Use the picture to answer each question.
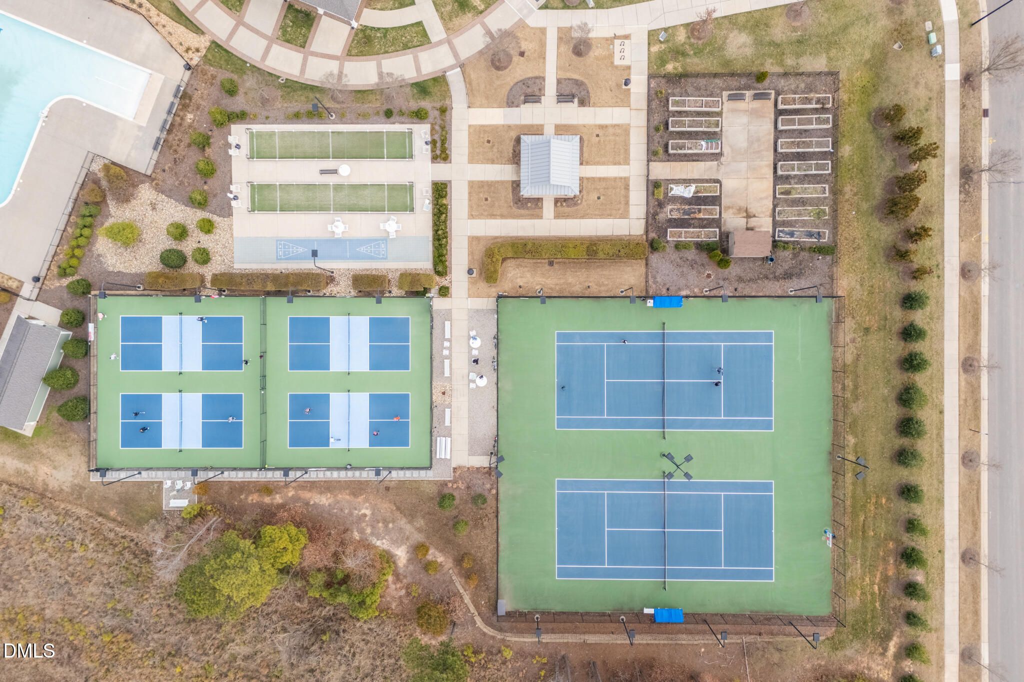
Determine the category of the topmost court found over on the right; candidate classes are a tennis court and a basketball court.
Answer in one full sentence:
The topmost court found over on the right is a tennis court.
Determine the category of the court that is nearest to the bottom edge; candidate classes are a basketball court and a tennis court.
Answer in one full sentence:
It looks like the court that is nearest to the bottom edge is a tennis court.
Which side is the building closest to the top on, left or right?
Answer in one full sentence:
You can find the building closest to the top on the left side of the picture.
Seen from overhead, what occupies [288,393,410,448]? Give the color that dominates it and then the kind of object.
blue sports court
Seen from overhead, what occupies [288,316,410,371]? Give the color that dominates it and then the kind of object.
blue sports court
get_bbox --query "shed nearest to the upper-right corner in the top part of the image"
[728,231,773,258]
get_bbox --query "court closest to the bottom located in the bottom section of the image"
[556,480,774,581]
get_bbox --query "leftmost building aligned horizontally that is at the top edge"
[285,0,362,31]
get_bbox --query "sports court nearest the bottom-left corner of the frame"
[120,394,244,449]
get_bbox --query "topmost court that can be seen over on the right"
[556,331,774,431]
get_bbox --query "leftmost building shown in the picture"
[0,314,74,431]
